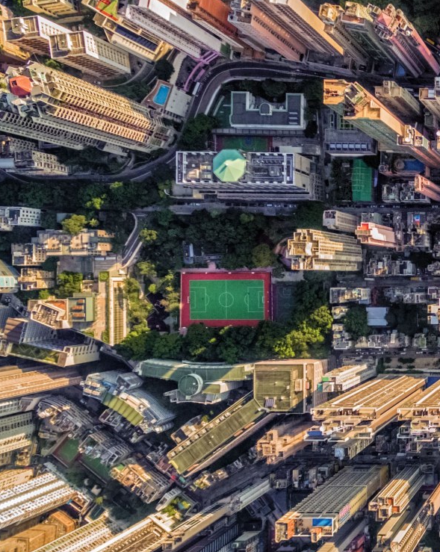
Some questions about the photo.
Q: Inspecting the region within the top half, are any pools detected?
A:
Yes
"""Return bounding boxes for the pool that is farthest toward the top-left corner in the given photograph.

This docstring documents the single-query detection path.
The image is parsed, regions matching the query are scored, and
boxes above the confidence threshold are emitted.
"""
[140,79,173,116]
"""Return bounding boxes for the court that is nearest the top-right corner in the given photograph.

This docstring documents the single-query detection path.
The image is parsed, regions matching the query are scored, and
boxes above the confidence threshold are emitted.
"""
[352,159,372,201]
